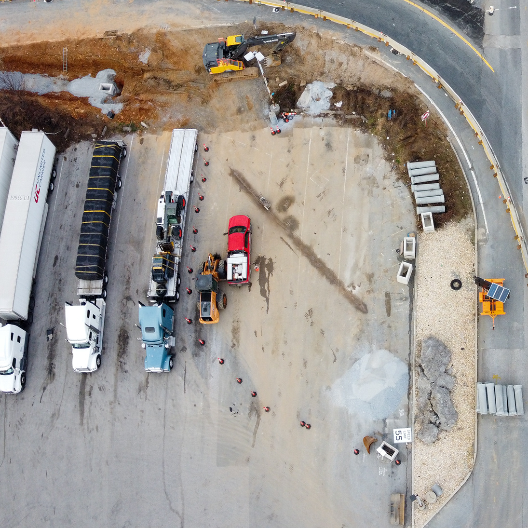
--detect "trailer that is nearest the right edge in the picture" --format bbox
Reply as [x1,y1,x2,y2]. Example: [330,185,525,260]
[469,263,515,332]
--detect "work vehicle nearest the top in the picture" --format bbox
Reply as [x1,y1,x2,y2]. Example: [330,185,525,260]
[191,37,287,92]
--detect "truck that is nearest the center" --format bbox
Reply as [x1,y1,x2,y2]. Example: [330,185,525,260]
[223,216,253,289]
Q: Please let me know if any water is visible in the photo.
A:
No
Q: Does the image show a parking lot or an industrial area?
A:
parking lot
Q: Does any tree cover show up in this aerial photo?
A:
No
